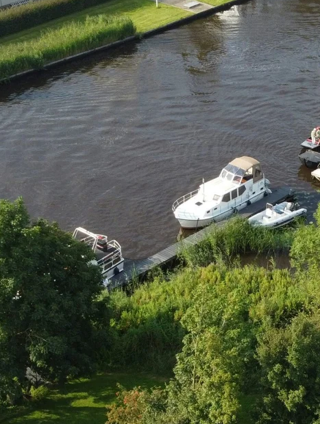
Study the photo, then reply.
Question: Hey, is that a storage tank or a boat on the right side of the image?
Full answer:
Looking on the right side of the image, you will find a boat.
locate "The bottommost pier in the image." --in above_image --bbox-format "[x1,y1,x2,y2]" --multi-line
[126,185,303,281]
